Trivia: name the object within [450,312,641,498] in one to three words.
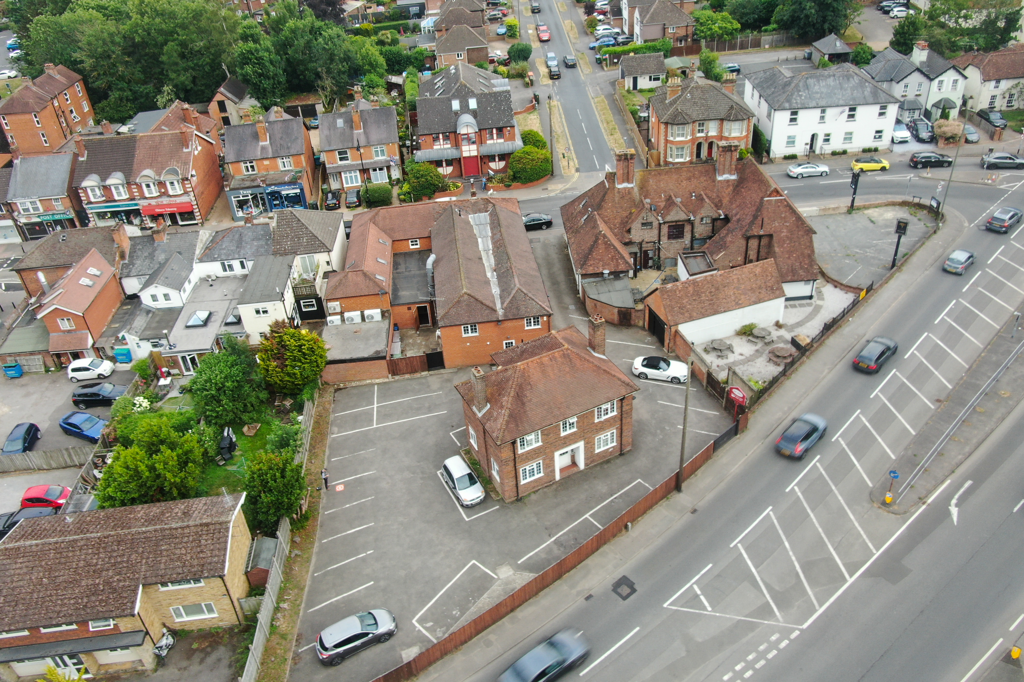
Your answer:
house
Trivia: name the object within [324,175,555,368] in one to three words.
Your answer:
building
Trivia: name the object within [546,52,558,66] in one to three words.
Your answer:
vehicle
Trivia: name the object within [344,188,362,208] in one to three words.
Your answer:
car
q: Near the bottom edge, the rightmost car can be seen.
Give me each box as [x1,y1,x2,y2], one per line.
[505,632,593,682]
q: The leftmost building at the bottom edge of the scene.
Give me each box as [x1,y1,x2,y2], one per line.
[0,493,255,675]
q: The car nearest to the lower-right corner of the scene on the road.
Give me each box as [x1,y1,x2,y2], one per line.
[781,415,829,459]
